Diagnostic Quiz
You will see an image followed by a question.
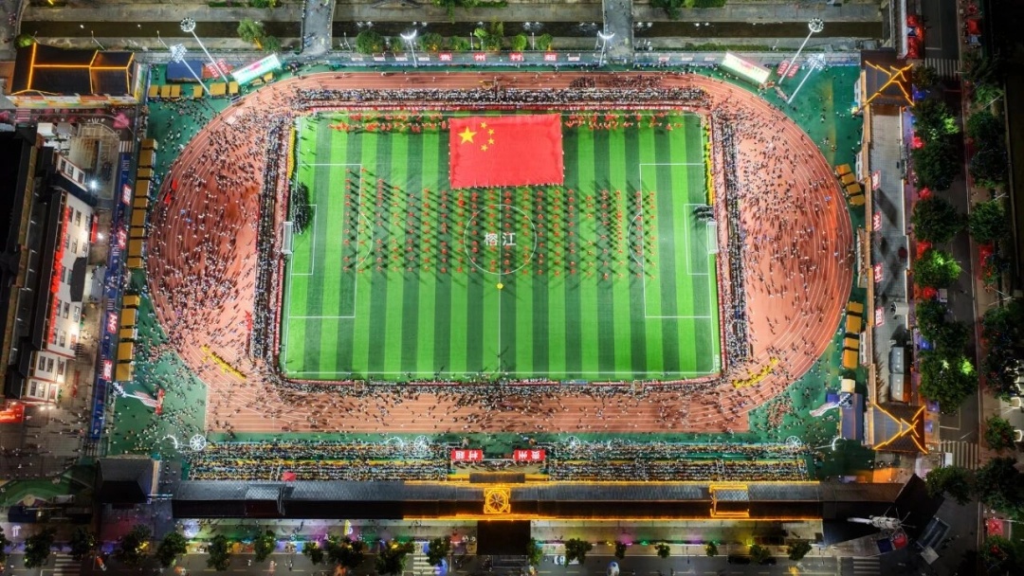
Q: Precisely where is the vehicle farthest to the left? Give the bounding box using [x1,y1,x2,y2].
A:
[93,554,105,570]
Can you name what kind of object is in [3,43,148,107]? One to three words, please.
building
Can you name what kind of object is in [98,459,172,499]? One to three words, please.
building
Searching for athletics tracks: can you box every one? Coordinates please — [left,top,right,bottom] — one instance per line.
[151,72,849,436]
